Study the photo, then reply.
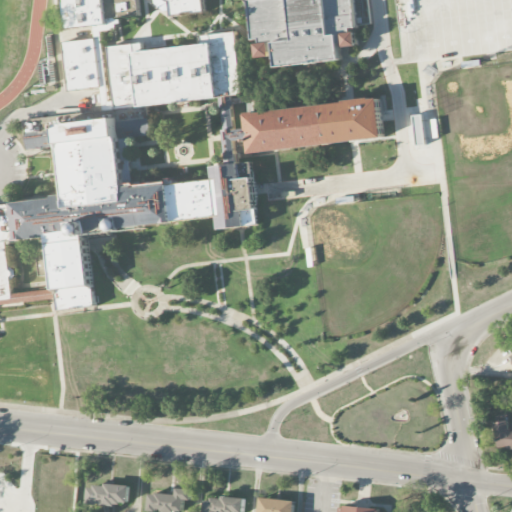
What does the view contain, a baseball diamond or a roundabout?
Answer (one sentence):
It is a baseball diamond that can be seen here.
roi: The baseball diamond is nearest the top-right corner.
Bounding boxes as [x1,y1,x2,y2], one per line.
[438,62,512,263]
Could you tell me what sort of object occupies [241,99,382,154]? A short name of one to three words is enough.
building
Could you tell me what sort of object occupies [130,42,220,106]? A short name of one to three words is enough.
building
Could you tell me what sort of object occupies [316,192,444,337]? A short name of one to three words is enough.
baseball field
